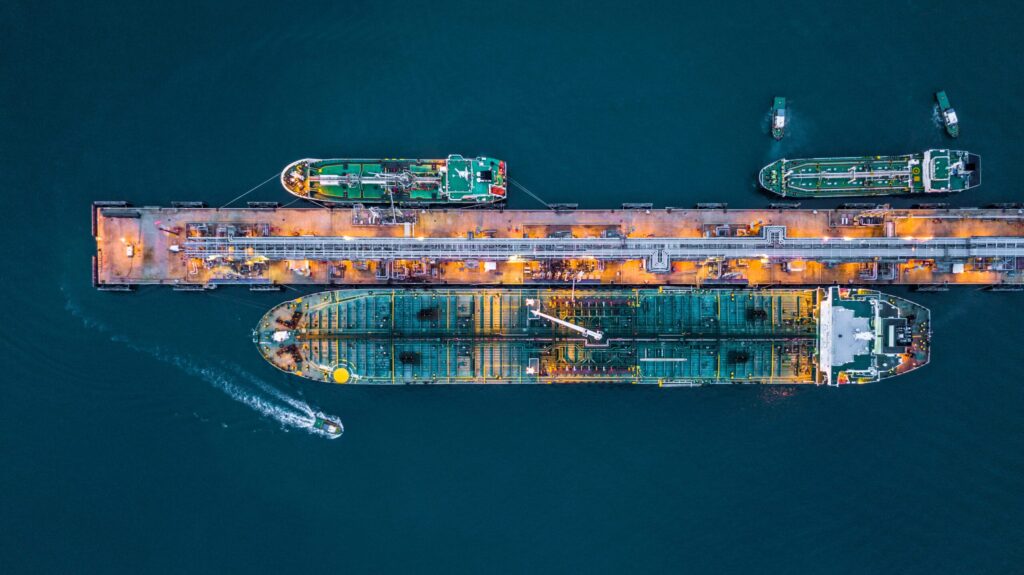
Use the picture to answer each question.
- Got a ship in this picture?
Yes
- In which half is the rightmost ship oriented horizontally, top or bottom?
top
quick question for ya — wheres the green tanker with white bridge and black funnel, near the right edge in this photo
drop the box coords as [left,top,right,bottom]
[758,150,982,198]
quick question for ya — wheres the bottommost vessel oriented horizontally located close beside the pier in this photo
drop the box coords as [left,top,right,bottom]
[254,286,931,387]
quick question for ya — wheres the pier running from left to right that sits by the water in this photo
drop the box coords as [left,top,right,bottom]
[91,201,1024,291]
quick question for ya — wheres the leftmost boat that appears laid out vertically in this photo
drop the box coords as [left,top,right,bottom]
[772,96,787,140]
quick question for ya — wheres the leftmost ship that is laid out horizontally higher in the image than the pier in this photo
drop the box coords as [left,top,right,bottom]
[281,155,506,204]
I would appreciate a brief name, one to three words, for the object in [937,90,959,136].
boat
